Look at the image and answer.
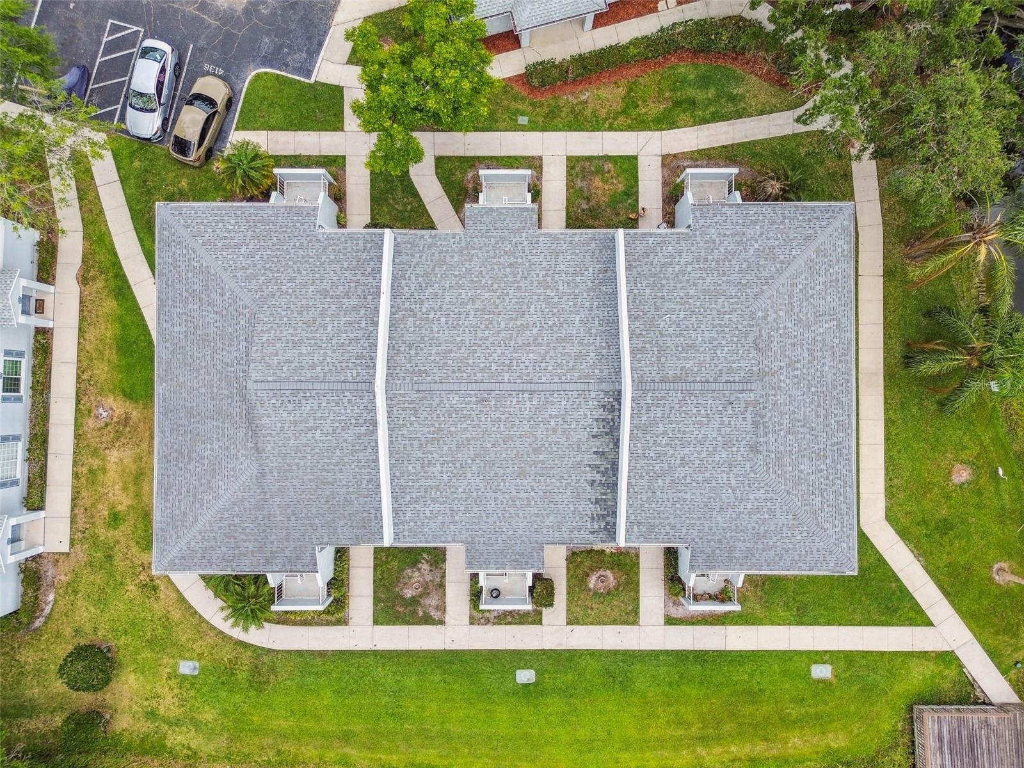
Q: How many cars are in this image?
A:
two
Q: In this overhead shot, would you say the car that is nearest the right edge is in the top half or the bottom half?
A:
top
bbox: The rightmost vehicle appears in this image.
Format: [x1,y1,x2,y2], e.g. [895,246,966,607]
[164,73,233,168]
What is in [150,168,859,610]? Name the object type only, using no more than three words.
building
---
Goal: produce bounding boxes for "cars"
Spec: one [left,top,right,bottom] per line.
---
[118,36,180,142]
[164,73,233,168]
